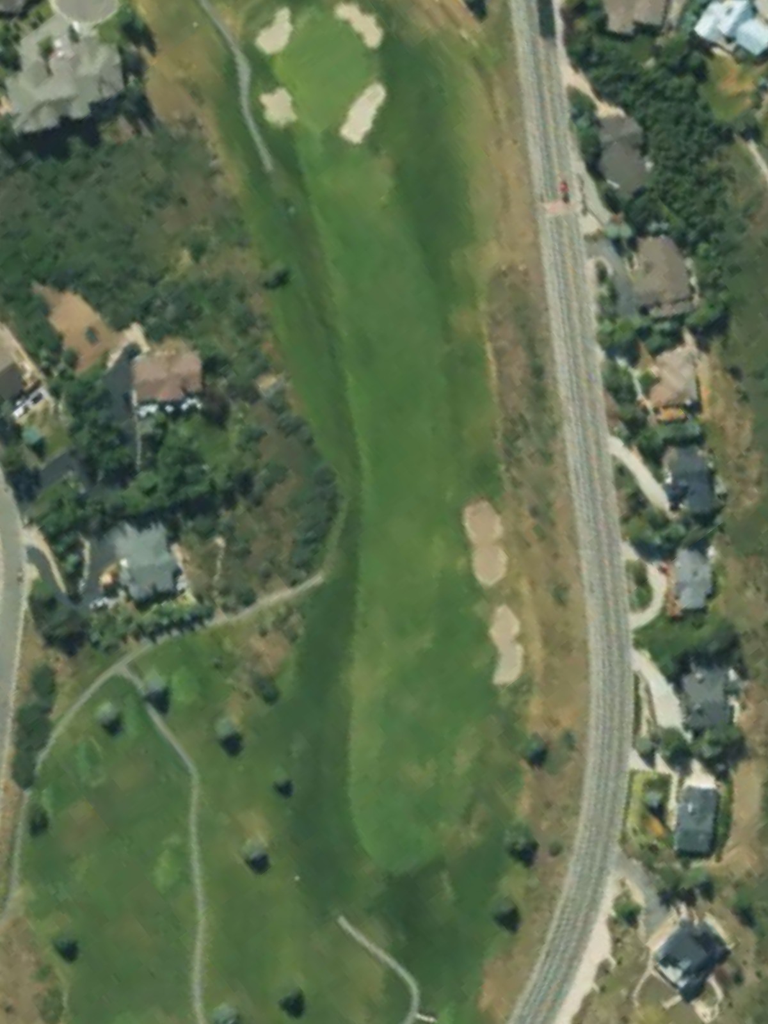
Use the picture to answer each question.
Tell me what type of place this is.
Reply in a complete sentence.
What you see here is a golf course.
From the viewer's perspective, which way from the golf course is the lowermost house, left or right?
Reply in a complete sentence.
From the viewer's perspective, the lowermost house falls to the right of the golf course.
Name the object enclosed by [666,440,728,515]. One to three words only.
house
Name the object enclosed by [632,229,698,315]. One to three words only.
house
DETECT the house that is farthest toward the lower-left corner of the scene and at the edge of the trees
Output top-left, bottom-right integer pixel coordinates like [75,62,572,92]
[104,520,180,601]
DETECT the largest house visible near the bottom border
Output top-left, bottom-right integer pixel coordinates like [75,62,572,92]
[656,914,738,1004]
